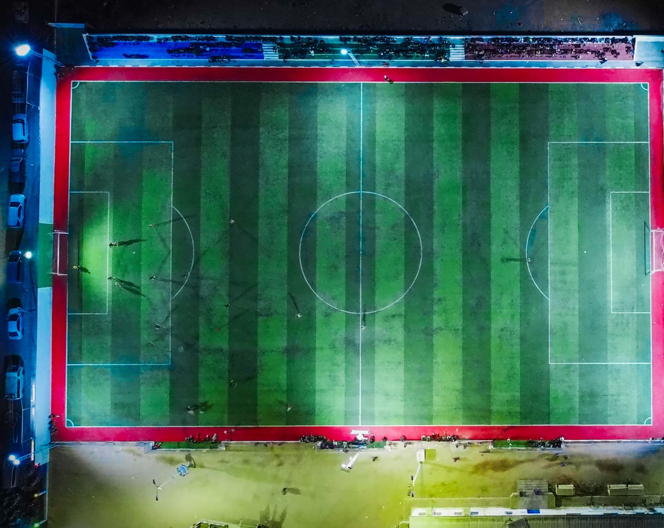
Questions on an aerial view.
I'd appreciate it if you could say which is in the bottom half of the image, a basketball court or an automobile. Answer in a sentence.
It is an automobile that can be seen in the bottom half of the image.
